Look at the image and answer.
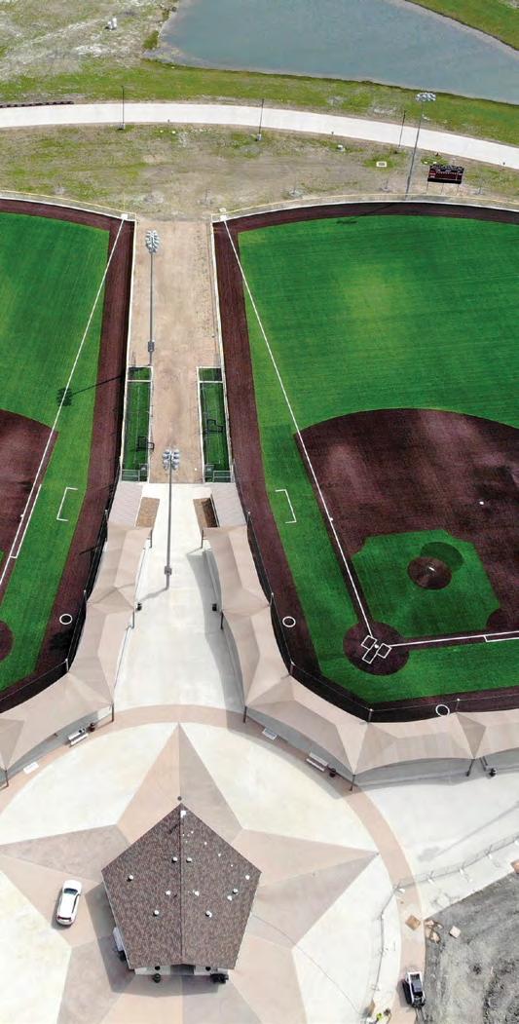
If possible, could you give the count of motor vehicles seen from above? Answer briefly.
2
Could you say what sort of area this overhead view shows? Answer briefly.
sports ground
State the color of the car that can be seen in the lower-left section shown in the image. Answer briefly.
white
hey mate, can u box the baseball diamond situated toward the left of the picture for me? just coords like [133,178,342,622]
[0,199,133,699]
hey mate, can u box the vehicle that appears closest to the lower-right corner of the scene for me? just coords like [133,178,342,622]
[400,966,427,1022]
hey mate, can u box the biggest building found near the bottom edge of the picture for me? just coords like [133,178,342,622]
[102,802,260,983]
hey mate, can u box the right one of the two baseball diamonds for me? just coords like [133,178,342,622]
[214,202,519,720]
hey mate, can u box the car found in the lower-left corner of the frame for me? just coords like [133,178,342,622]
[53,874,83,926]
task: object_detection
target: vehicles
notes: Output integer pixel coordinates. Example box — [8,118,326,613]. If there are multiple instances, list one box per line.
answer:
[400,966,427,1022]
[53,874,83,926]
